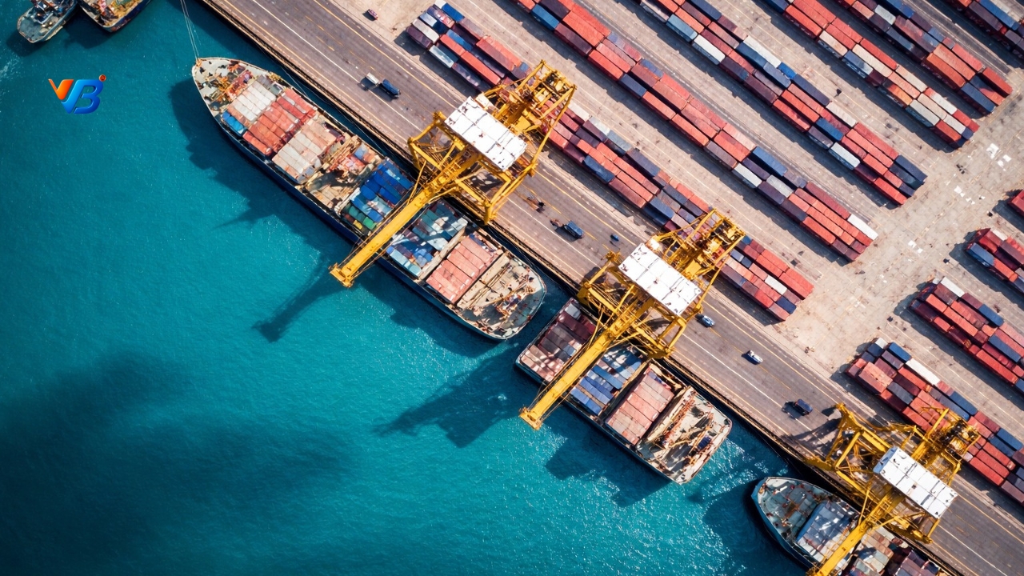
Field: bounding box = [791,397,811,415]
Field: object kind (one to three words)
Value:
vehicle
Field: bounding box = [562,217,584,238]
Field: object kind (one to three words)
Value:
truck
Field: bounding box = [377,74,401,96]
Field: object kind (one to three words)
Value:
truck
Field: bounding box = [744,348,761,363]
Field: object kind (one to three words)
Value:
car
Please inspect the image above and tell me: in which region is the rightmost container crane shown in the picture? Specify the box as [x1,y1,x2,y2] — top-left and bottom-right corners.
[794,394,982,576]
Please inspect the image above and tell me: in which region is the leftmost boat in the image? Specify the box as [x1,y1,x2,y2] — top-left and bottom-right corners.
[18,0,86,48]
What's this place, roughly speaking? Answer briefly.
port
